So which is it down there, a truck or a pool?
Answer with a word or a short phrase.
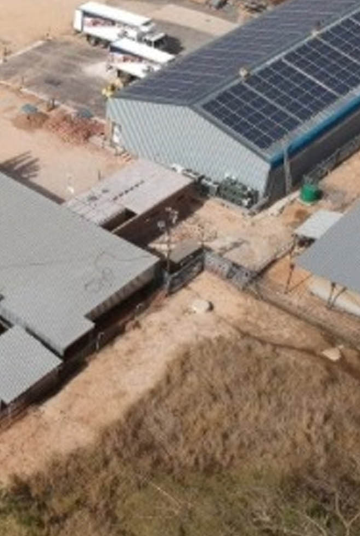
truck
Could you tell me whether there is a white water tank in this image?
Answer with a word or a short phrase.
No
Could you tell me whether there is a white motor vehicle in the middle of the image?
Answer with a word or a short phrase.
No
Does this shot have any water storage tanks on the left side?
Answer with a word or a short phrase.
No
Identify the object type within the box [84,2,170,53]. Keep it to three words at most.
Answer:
truck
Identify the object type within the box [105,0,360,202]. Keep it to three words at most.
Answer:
warehouse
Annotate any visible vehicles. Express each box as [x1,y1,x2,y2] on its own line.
[105,37,176,79]
[84,2,170,53]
